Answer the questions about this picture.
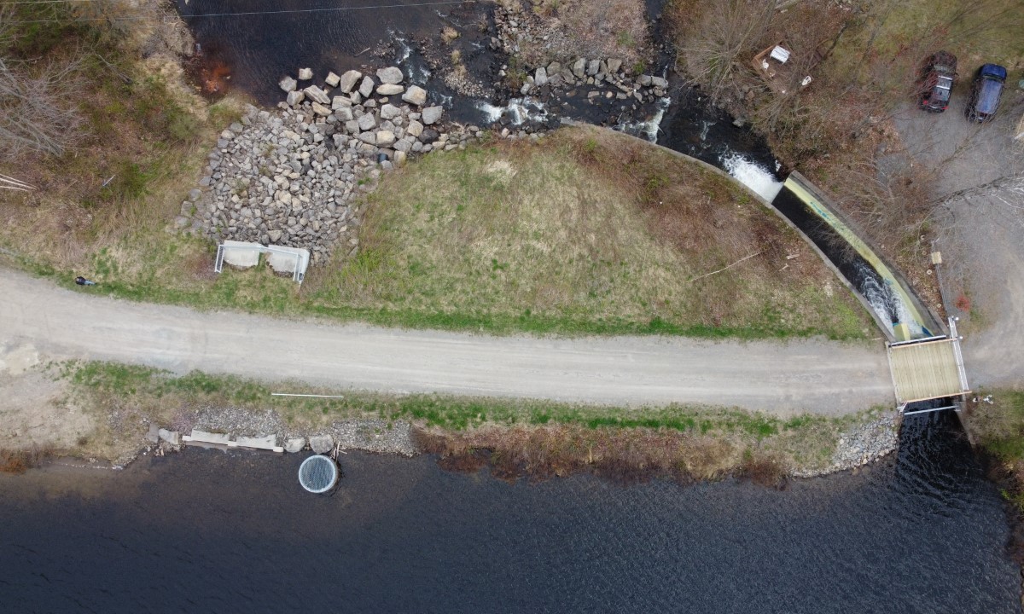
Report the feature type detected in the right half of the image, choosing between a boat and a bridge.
bridge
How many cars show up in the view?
two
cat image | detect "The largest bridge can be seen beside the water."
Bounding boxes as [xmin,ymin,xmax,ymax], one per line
[889,336,969,405]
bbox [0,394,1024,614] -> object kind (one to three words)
pond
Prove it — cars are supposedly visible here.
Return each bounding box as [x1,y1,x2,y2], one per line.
[964,62,1007,128]
[917,51,956,116]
